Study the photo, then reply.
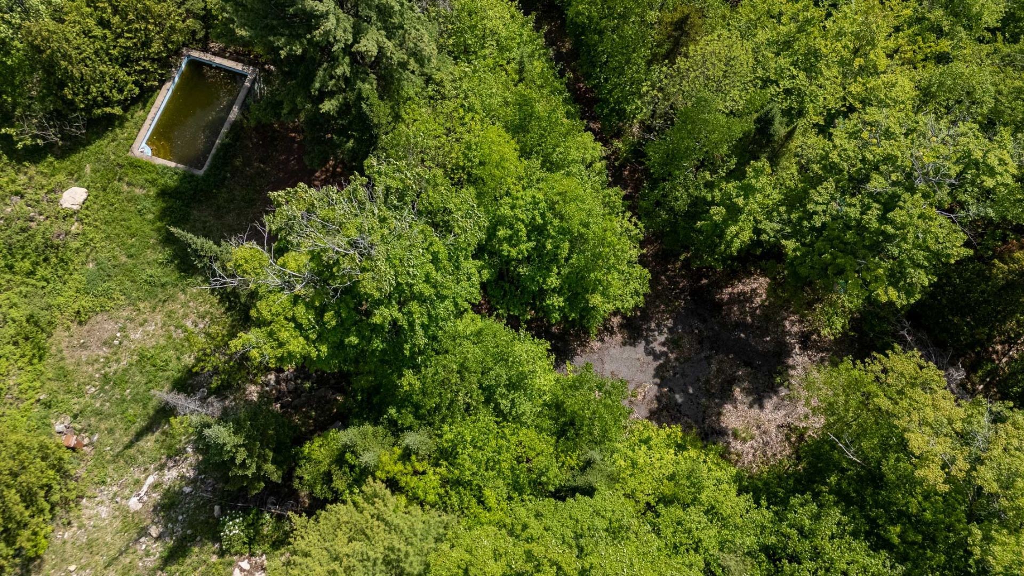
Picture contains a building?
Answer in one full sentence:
No, no building is visible in the view.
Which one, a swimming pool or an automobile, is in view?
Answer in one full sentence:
The image shows a swimming pool.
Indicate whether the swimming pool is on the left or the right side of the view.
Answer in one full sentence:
The swimming pool appears in the left half of the scene.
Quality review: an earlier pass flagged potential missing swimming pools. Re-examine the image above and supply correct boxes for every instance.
[130,52,262,176]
